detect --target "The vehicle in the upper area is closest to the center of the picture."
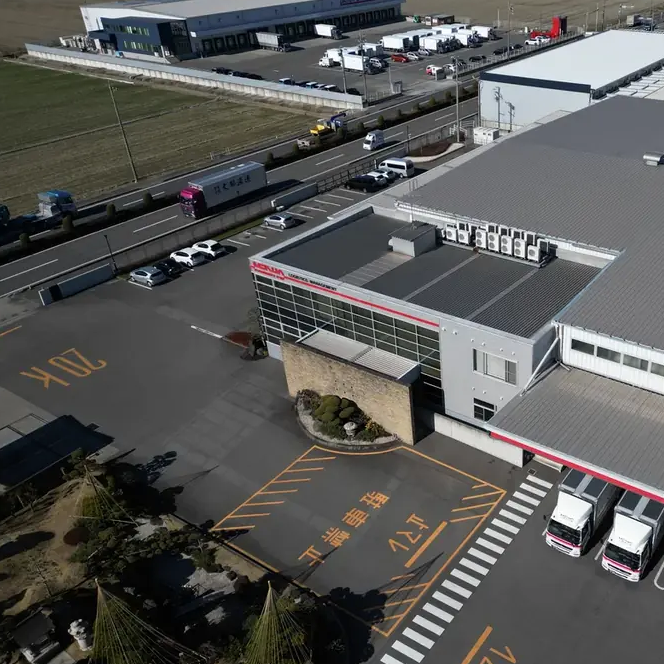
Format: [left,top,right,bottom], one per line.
[260,213,293,230]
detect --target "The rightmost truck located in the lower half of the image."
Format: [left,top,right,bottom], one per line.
[599,491,664,581]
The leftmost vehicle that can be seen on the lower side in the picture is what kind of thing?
truck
